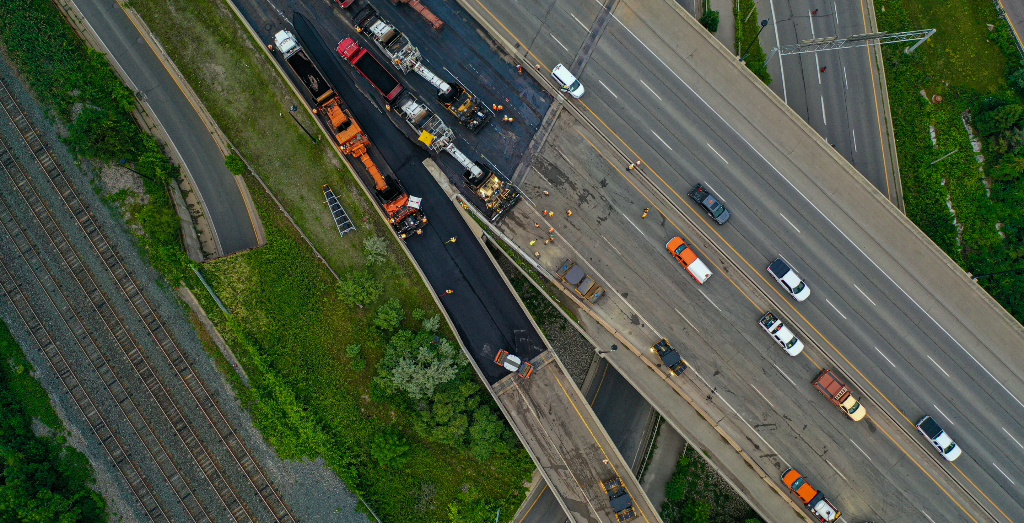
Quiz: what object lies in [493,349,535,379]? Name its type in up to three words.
work vehicle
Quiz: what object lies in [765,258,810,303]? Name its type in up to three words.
truck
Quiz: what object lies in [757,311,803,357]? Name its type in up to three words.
truck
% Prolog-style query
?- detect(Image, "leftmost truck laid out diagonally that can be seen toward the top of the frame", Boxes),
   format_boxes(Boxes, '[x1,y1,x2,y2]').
[268,26,334,104]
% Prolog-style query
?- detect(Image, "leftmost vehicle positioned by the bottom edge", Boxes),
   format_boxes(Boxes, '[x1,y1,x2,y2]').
[599,476,637,523]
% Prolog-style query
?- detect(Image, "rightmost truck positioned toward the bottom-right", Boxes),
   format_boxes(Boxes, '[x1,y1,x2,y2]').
[915,415,960,461]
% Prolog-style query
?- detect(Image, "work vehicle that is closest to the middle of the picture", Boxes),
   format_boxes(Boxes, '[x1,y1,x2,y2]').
[555,258,607,306]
